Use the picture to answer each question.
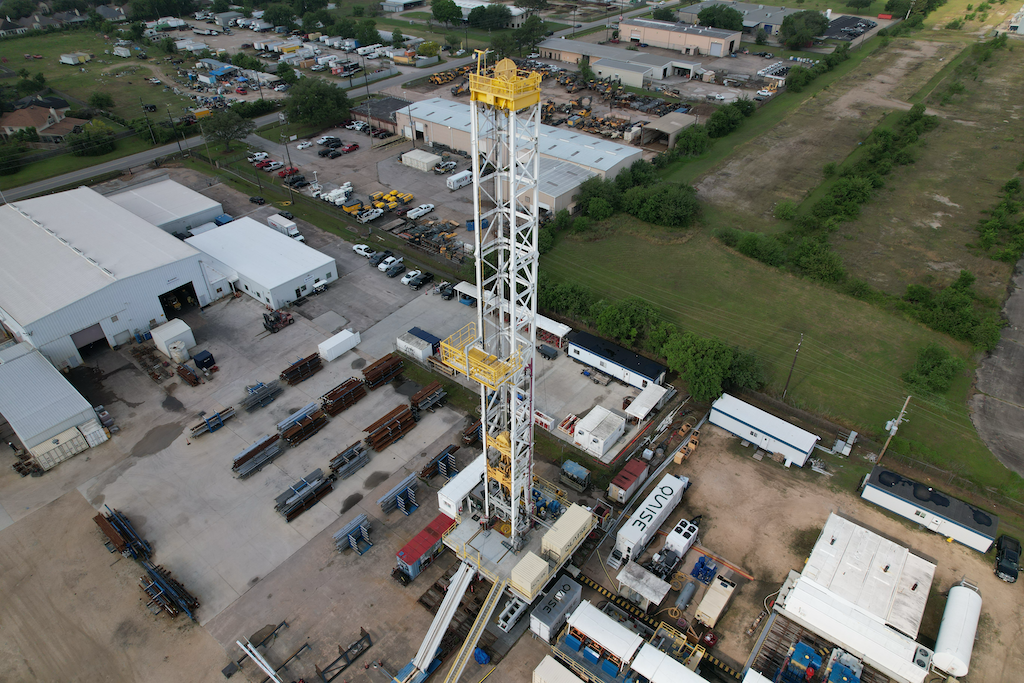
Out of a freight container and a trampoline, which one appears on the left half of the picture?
freight container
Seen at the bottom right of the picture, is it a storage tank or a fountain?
storage tank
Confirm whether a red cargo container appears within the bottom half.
Yes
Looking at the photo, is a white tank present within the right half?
Yes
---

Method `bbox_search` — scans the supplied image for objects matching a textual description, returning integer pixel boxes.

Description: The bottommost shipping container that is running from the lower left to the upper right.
[531,575,583,640]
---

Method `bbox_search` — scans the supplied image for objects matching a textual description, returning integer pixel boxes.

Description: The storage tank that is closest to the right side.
[929,577,984,675]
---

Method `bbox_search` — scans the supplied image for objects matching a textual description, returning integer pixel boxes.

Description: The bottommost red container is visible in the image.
[397,512,462,580]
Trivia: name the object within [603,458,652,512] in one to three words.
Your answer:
shipping container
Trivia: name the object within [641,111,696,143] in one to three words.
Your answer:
shed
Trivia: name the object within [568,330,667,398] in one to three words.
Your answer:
building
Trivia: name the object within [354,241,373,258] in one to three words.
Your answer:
vehicle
